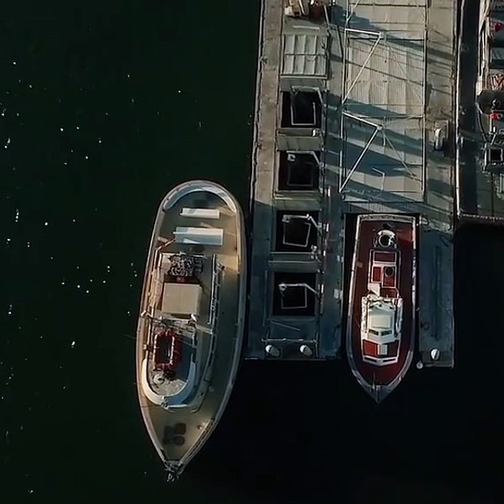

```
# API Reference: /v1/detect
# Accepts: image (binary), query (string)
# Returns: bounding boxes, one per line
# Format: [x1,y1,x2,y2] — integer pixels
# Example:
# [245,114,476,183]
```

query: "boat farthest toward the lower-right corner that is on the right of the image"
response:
[346,214,419,403]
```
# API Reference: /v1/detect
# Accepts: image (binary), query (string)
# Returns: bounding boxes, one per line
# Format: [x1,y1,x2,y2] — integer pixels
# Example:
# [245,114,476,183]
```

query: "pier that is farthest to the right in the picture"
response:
[419,0,456,367]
